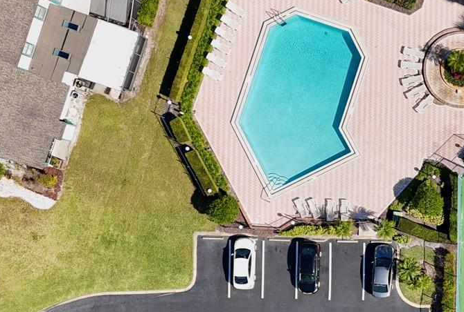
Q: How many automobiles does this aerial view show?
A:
3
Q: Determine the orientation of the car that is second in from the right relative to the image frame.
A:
up and down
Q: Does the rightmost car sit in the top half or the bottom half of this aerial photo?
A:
bottom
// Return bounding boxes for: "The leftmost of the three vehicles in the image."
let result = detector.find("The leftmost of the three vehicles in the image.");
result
[229,236,256,290]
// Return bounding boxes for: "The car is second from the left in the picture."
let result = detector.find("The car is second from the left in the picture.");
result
[295,240,321,294]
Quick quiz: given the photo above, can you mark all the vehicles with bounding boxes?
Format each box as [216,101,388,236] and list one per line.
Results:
[370,242,395,298]
[229,236,256,290]
[295,240,321,294]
